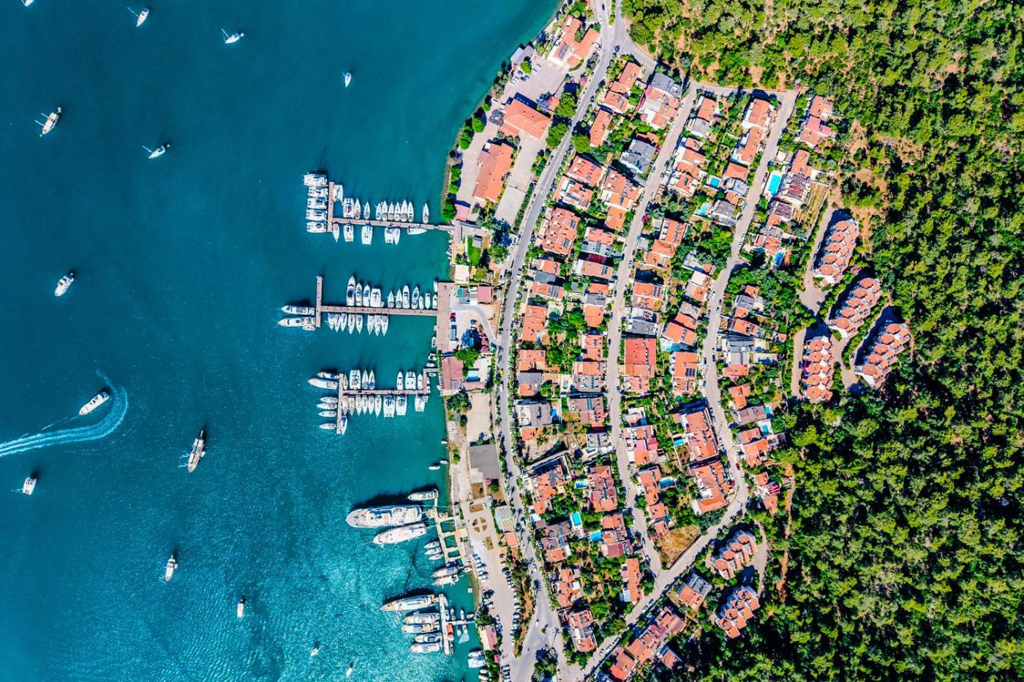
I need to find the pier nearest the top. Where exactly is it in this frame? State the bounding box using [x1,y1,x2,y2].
[329,182,451,231]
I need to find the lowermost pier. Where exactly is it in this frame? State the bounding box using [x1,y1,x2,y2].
[439,594,477,655]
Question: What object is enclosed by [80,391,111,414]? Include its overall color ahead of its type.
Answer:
white boat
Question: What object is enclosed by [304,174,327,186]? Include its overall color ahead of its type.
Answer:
white boat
